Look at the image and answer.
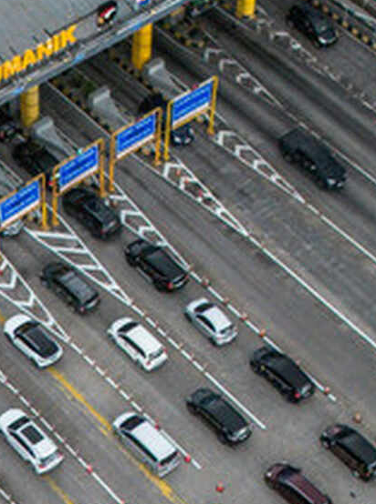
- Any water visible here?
No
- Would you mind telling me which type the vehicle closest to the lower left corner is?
car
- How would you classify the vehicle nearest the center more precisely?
automobile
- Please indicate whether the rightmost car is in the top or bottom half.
bottom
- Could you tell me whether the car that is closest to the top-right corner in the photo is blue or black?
black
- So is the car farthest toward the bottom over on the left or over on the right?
right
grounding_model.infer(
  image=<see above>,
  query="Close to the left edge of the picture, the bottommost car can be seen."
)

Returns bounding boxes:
[1,415,57,470]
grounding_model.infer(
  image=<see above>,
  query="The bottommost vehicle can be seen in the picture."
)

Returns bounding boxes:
[265,463,329,504]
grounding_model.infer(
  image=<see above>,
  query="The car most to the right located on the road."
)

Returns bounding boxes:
[319,423,376,483]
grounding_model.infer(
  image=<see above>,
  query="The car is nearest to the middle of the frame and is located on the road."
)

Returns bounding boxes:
[127,240,186,292]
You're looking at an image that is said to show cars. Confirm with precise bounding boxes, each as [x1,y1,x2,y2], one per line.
[109,322,164,374]
[252,349,313,403]
[285,0,336,45]
[114,415,177,475]
[188,390,252,448]
[5,135,60,182]
[1,415,57,470]
[185,302,235,346]
[127,240,186,292]
[0,218,27,240]
[5,316,59,367]
[319,423,376,483]
[265,463,329,504]
[282,126,341,182]
[66,191,121,239]
[42,262,100,315]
